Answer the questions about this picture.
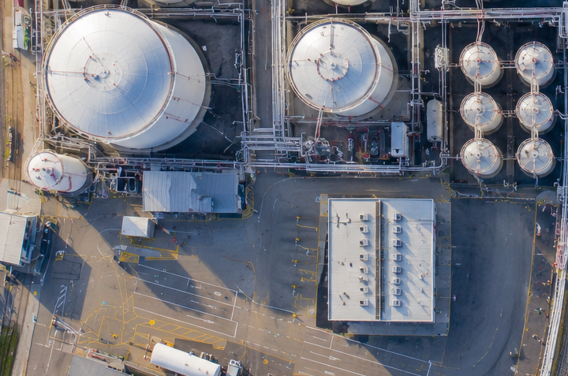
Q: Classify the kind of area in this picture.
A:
industrial area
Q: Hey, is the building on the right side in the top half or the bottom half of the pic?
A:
bottom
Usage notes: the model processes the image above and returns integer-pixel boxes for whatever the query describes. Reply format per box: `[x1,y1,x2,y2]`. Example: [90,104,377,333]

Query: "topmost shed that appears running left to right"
[142,171,245,220]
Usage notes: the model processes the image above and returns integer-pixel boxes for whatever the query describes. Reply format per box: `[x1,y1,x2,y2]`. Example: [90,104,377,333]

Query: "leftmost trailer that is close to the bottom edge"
[148,345,221,376]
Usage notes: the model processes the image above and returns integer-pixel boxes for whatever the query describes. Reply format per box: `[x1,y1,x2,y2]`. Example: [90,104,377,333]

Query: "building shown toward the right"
[327,197,438,323]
